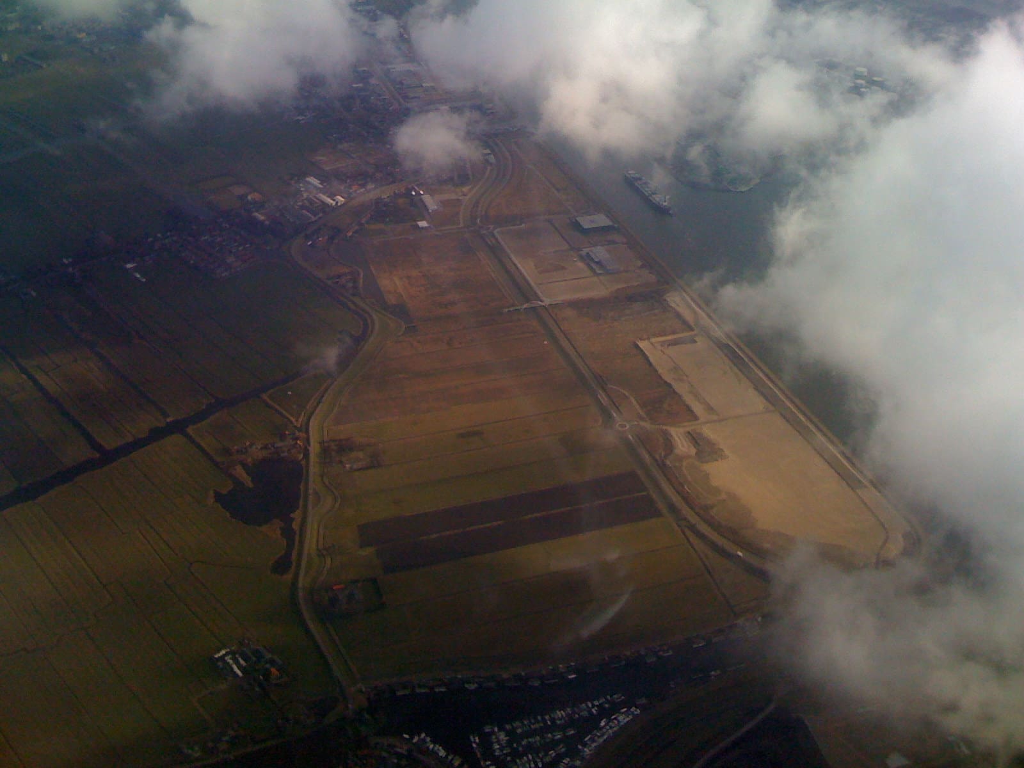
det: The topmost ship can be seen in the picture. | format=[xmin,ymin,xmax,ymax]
[622,168,677,213]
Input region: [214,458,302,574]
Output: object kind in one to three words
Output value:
pond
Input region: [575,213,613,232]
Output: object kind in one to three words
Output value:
building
